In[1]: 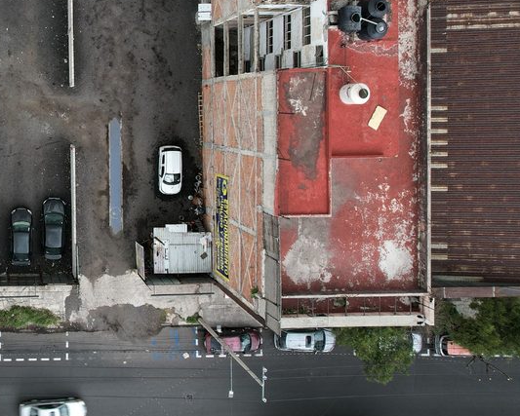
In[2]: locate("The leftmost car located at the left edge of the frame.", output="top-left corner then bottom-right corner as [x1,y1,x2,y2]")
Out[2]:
[8,205,35,265]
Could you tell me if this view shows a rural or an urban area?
urban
